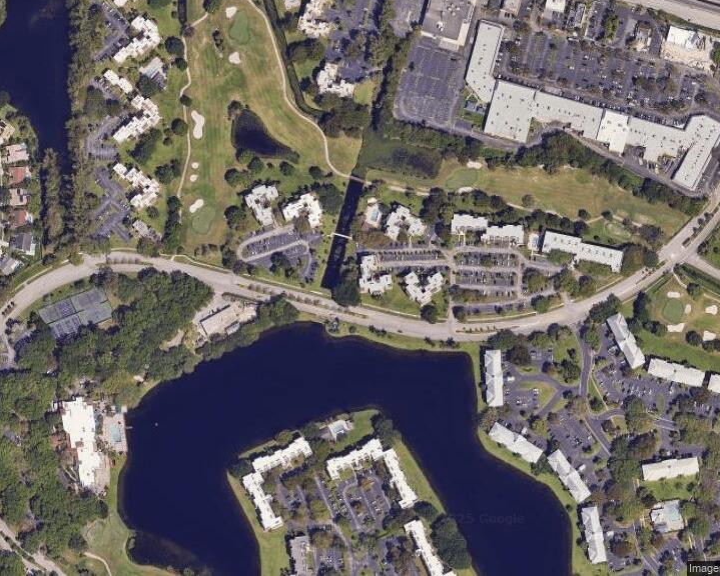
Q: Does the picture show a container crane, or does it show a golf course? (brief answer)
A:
golf course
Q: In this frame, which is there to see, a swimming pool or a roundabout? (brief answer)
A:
swimming pool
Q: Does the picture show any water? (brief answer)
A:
Yes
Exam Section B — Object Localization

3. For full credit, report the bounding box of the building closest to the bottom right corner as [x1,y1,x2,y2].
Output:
[651,502,676,533]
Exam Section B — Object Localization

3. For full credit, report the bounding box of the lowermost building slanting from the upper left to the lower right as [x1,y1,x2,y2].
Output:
[404,519,449,576]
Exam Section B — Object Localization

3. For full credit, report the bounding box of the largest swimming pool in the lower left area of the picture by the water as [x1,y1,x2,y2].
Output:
[106,416,125,448]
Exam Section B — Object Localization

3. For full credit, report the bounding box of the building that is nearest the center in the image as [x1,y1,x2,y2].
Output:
[359,255,391,291]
